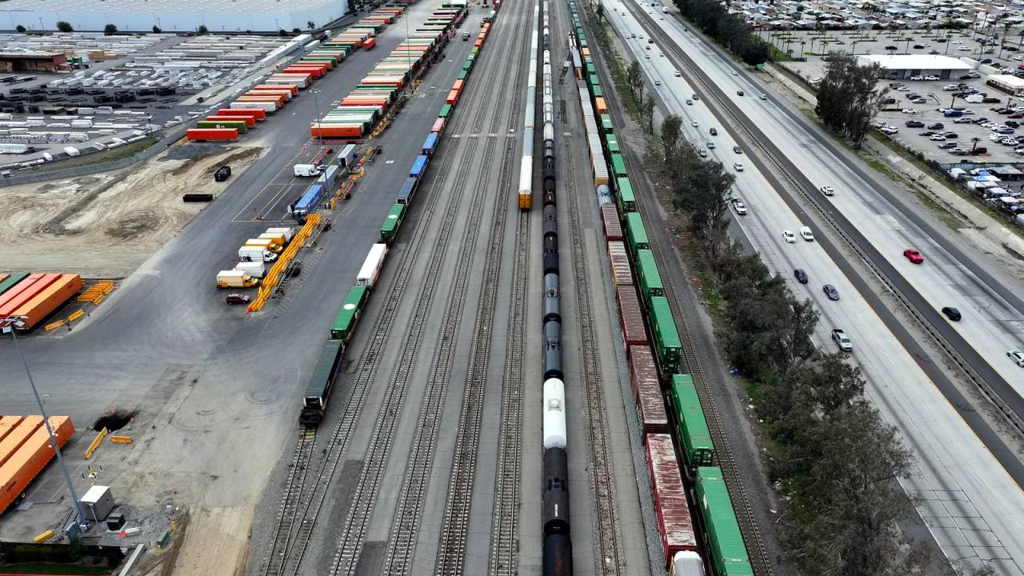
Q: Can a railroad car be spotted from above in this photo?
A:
Yes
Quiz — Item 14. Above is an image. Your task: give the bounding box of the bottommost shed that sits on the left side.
[78,485,115,519]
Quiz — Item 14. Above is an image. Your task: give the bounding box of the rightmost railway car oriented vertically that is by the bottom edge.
[643,434,697,572]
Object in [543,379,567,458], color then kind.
white rail car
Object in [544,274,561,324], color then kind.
gray rail car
